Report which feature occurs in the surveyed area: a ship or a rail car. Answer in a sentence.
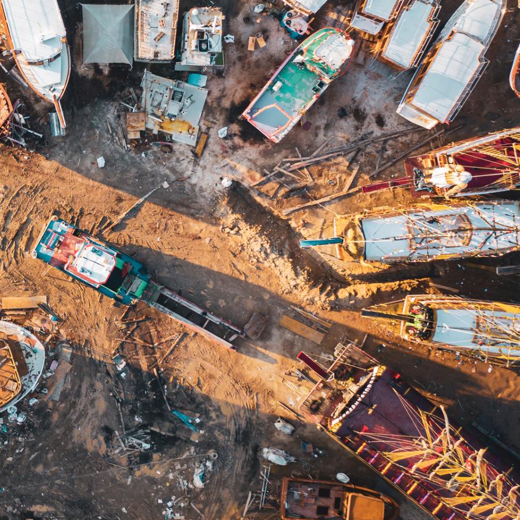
Visible in the photo is a ship.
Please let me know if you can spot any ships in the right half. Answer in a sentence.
Yes, looking in the right half, one can make out a ship.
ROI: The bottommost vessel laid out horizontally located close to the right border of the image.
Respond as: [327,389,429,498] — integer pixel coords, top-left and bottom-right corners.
[360,293,520,370]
